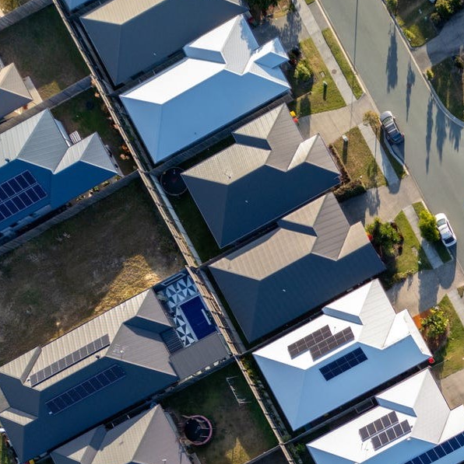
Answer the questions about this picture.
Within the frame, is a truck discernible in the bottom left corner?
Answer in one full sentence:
No, no truck is visible in the bottom left corner.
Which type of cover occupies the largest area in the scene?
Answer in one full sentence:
For the most part, this view shows buildings.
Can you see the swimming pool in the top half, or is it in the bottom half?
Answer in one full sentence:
The bottom half of the photo is where the swimming pool is.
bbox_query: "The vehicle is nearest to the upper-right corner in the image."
[377,103,406,148]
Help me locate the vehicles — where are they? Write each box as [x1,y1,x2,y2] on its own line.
[430,209,458,248]
[377,103,406,148]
